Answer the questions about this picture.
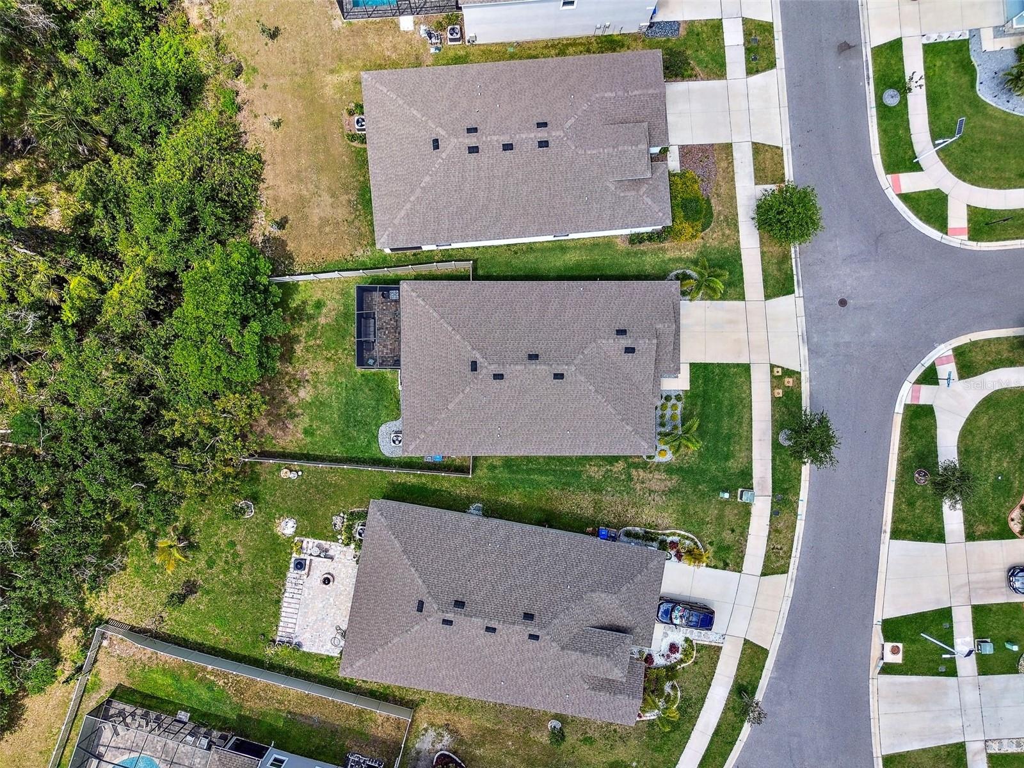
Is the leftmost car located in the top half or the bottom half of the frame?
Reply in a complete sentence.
Seen from above, the leftmost car lies in the bottom half of the view.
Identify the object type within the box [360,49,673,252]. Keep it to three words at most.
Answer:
house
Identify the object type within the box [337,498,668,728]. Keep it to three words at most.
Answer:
house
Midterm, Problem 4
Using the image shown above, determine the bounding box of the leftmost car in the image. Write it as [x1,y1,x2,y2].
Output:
[656,595,714,627]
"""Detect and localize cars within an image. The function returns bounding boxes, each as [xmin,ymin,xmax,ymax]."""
[1005,568,1024,593]
[656,595,714,627]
